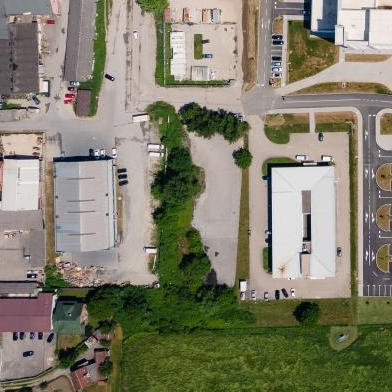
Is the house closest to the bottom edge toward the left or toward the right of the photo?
left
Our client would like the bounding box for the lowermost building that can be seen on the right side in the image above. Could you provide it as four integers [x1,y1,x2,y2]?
[271,162,336,278]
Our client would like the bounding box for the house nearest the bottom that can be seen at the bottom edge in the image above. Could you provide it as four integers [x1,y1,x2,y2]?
[69,361,97,391]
